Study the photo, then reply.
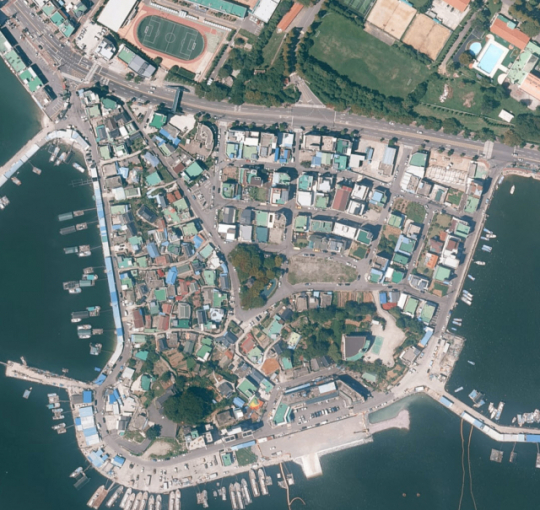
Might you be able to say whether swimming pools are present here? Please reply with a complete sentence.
Yes, the photo shows a swimming pool.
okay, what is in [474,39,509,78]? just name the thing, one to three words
swimming pool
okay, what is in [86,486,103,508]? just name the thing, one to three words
boat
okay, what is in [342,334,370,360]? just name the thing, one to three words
building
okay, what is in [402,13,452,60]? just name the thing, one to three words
sports court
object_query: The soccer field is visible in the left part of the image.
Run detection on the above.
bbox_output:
[138,16,203,60]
